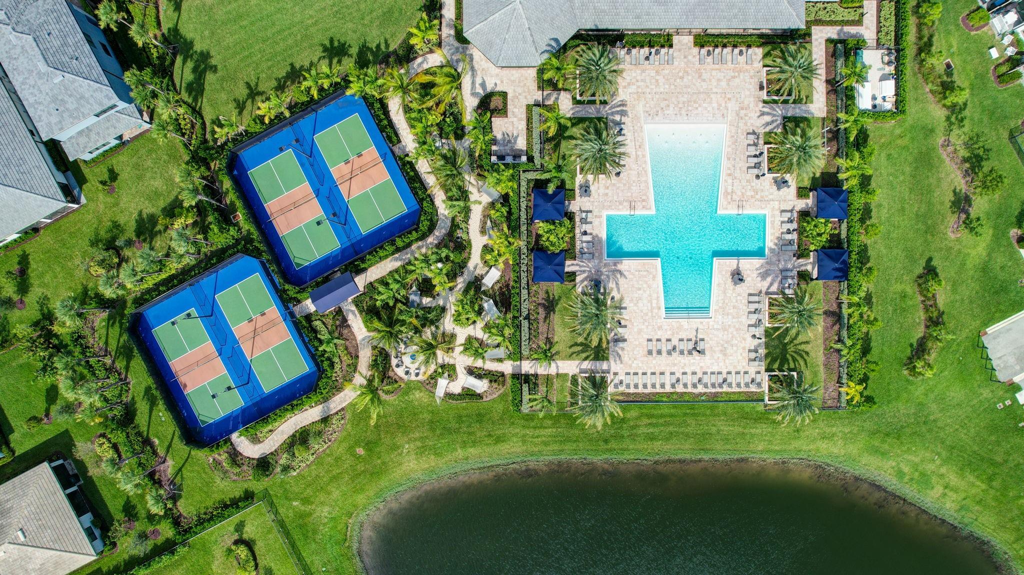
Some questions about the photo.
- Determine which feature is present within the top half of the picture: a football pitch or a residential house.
residential house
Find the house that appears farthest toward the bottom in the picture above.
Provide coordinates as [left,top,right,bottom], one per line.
[0,457,117,575]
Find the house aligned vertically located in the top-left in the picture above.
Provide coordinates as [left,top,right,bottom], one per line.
[0,64,79,243]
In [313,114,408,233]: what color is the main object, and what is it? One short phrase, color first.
green sports court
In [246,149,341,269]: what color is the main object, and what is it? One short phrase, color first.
green sports court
